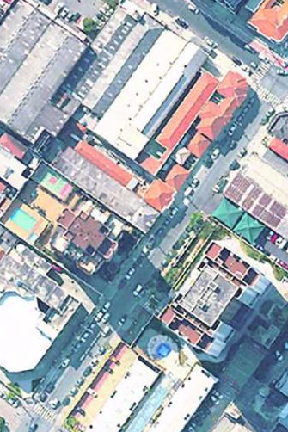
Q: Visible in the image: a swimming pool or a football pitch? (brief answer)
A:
swimming pool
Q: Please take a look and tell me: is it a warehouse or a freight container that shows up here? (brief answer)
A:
warehouse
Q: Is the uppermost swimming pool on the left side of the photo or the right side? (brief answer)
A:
left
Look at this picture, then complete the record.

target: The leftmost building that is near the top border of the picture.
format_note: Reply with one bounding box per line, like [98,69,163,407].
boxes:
[0,0,99,136]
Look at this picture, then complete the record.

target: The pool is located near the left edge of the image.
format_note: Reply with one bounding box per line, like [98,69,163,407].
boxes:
[10,206,38,232]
